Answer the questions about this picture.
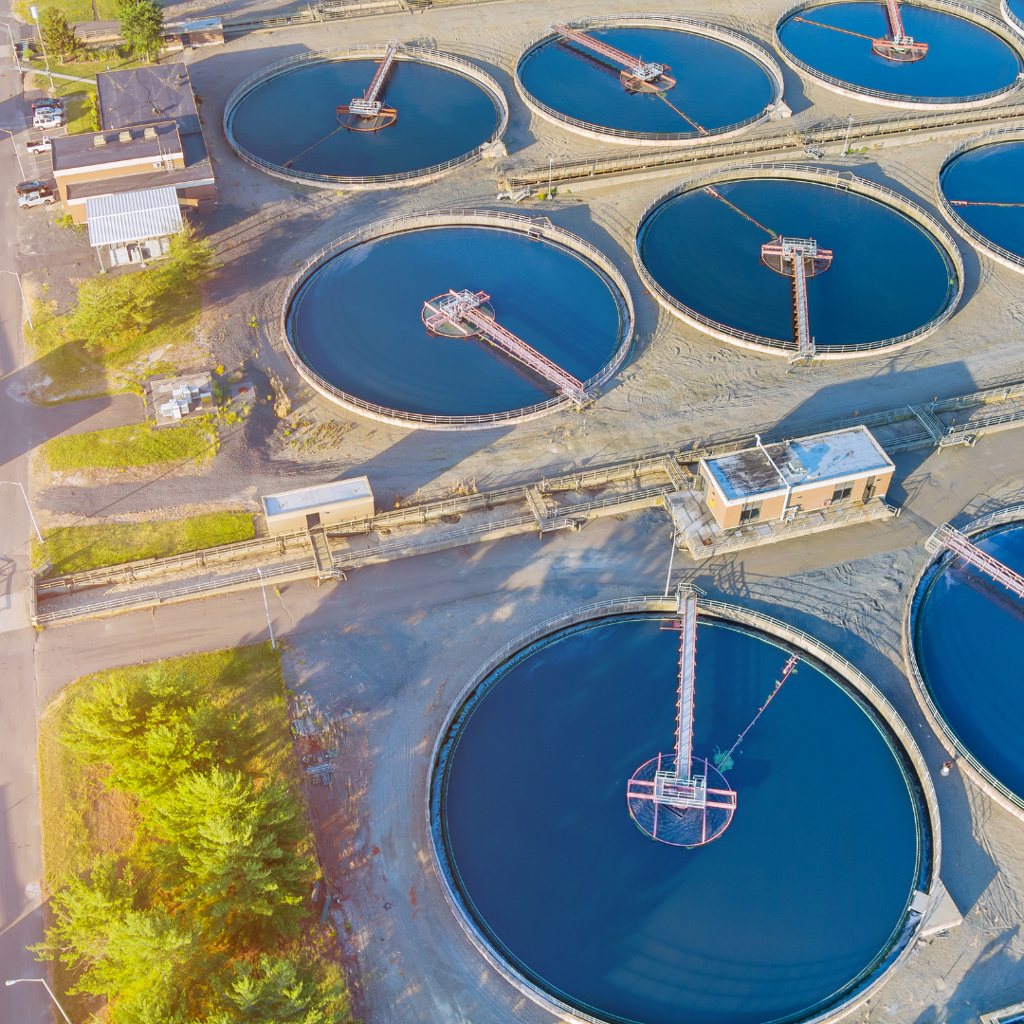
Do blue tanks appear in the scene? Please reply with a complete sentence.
Yes, a blue tank can be made out from above.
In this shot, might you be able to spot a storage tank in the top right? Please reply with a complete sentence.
Yes, there is a storage tank in the top right.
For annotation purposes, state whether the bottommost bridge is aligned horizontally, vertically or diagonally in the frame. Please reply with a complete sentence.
The bottommost bridge is oriented vertically.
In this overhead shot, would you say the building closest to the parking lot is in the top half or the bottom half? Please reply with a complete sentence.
It is in the top half that the building closest to the parking lot appears.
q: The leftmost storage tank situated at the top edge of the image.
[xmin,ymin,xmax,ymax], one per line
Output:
[221,35,508,190]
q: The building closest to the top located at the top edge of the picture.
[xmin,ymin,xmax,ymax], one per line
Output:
[154,16,225,51]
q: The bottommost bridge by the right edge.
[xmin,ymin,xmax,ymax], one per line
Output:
[912,524,1024,601]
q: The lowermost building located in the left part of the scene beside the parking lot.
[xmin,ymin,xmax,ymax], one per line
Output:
[51,63,223,225]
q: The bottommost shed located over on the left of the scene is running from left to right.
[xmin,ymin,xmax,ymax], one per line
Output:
[260,472,375,529]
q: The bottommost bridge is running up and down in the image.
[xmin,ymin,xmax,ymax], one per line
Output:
[669,578,713,776]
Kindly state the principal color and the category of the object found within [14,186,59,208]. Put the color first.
white truck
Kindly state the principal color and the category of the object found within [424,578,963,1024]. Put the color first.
blue storage tank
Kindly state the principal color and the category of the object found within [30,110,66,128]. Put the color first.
white car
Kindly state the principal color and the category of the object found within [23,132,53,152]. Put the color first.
white vehicle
